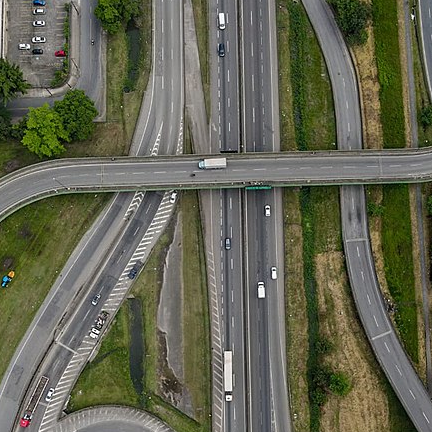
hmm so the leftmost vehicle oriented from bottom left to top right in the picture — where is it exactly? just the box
[2,269,17,287]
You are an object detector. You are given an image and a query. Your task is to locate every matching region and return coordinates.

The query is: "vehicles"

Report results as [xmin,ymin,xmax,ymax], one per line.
[18,44,31,50]
[20,374,51,424]
[33,0,47,6]
[266,204,271,218]
[223,351,233,400]
[33,8,47,15]
[2,269,17,287]
[32,20,47,27]
[219,43,225,58]
[225,237,230,250]
[219,11,225,30]
[32,36,47,43]
[169,190,179,204]
[55,51,67,57]
[271,267,277,280]
[31,48,45,55]
[86,309,111,338]
[91,294,102,305]
[258,282,264,298]
[46,387,55,402]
